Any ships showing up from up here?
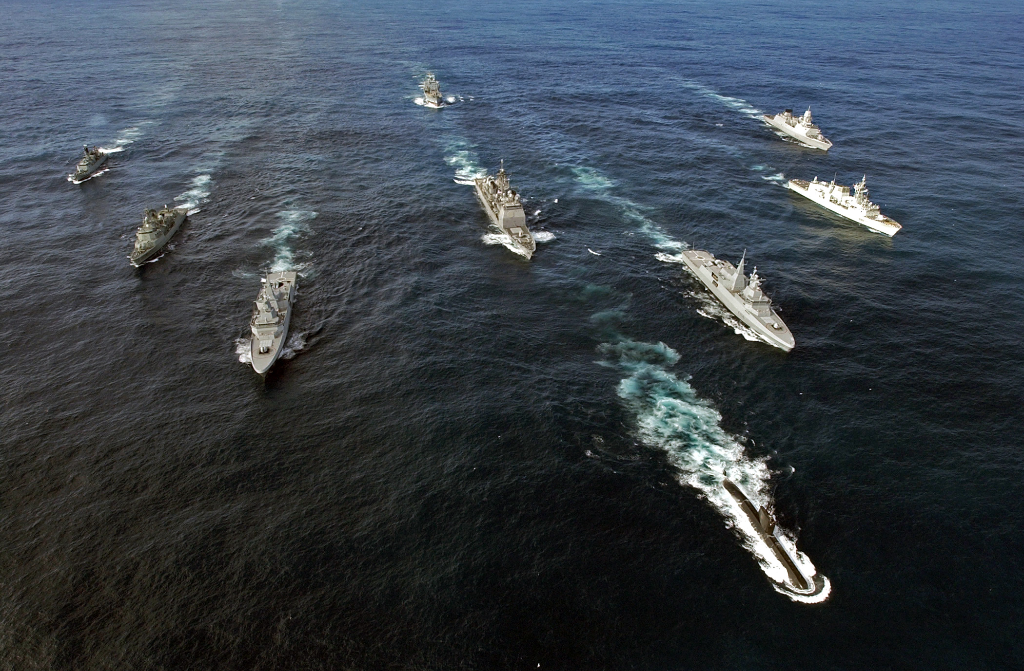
Yes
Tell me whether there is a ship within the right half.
Yes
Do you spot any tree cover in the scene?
No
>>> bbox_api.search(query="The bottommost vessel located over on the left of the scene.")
[249,269,296,383]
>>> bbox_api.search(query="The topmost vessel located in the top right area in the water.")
[760,107,833,152]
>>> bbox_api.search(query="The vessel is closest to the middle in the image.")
[471,162,537,264]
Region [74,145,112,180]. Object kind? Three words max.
ship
